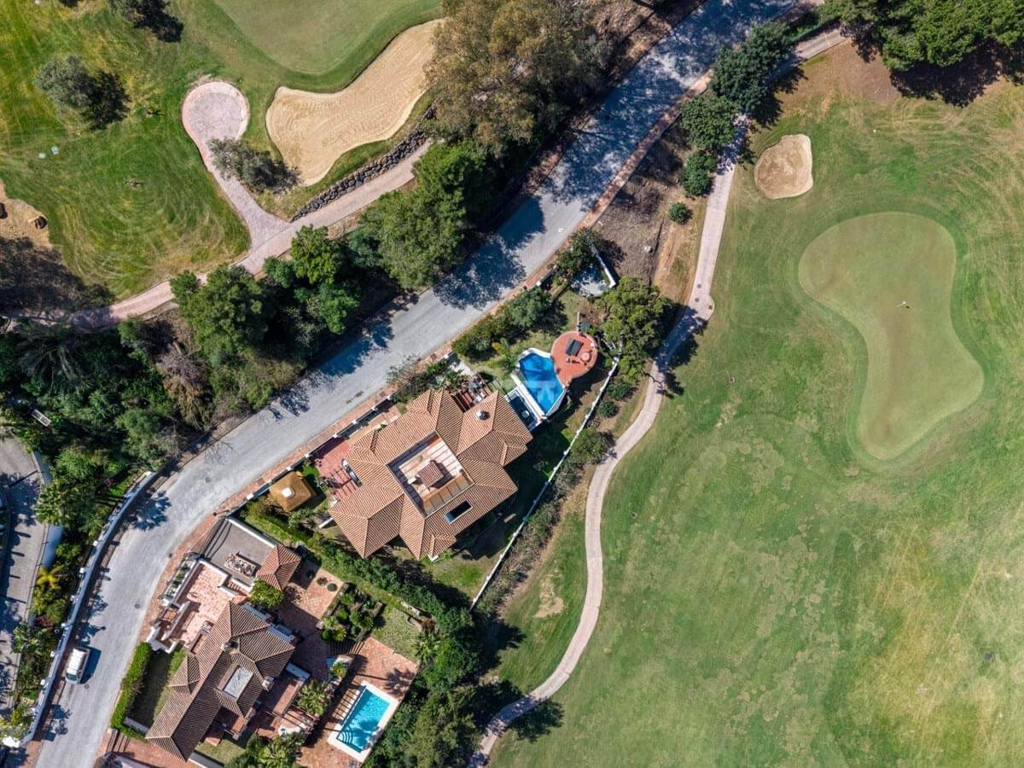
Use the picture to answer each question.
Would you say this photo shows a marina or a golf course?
golf course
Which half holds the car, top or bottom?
bottom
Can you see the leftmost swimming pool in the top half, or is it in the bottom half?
bottom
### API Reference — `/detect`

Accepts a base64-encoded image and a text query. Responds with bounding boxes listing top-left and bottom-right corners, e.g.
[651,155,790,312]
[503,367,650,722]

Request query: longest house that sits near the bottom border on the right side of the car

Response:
[145,596,298,762]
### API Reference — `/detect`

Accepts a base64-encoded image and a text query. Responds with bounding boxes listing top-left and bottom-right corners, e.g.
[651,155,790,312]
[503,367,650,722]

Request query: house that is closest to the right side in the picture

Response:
[328,388,533,559]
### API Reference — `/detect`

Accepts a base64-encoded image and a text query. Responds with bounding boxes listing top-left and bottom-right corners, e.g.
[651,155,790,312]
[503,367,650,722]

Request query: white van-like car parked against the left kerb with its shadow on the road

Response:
[64,646,89,684]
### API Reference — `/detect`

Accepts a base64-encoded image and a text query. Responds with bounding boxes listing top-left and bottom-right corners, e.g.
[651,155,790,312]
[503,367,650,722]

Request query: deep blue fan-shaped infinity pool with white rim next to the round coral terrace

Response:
[507,348,569,424]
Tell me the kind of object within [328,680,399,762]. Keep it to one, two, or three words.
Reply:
swimming pool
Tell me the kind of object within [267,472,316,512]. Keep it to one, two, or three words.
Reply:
shed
